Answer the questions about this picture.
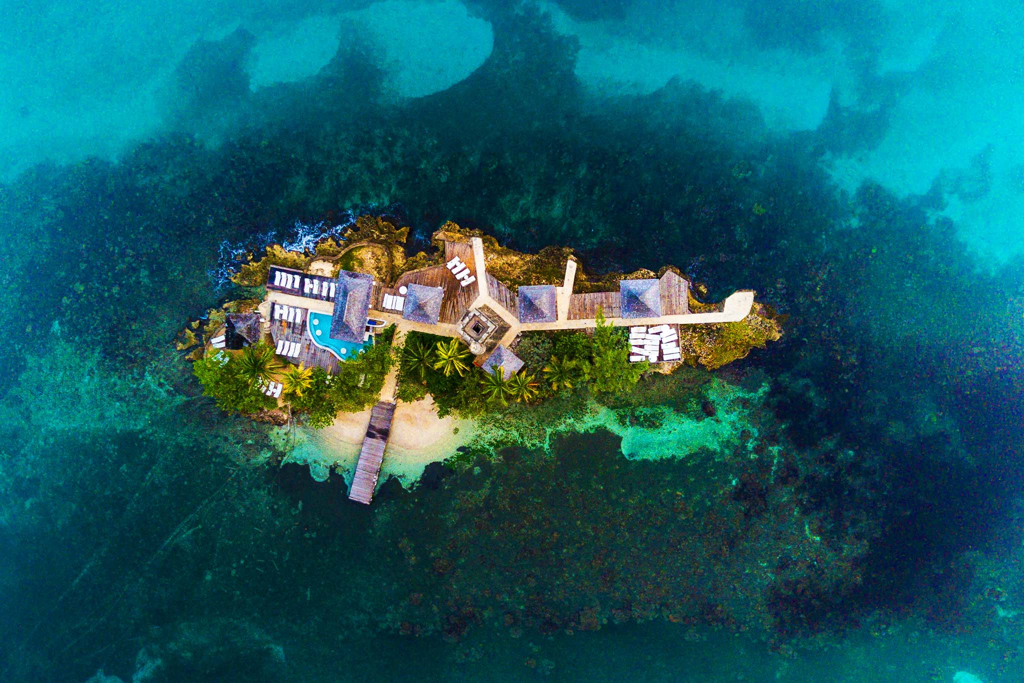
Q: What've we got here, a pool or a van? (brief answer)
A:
pool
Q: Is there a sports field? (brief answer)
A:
No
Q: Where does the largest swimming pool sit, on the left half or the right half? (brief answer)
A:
left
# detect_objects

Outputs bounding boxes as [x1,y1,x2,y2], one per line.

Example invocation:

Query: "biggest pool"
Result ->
[307,310,378,363]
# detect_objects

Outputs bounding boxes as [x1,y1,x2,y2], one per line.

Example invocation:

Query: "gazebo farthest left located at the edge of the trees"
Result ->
[225,313,264,349]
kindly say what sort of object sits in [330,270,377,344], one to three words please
building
